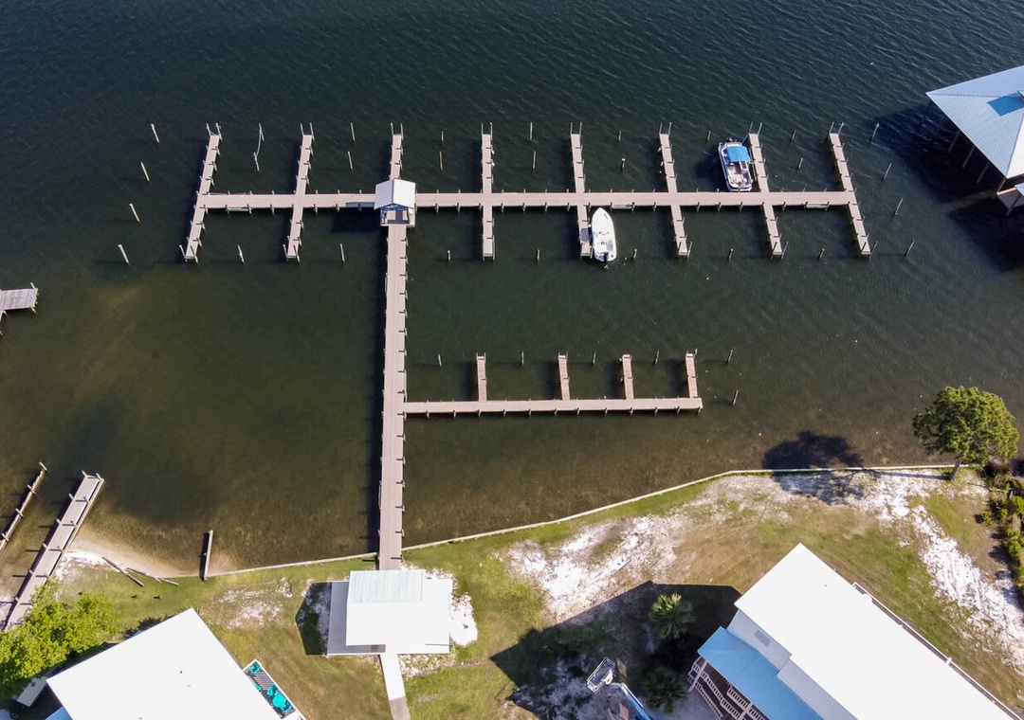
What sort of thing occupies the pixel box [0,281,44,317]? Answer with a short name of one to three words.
pier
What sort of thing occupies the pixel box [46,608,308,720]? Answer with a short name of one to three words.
house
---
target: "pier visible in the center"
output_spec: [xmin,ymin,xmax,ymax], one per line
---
[180,121,877,571]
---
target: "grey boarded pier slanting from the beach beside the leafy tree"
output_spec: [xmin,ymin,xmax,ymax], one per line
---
[13,471,105,622]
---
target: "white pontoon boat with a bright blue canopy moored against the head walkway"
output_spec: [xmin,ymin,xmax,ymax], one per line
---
[718,139,752,191]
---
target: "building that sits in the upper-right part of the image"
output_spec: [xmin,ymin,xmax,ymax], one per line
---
[923,62,1024,219]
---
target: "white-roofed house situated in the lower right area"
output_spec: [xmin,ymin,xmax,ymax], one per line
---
[685,543,1024,720]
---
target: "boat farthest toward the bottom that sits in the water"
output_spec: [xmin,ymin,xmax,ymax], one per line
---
[592,206,618,264]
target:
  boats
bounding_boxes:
[592,206,618,264]
[718,139,752,191]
